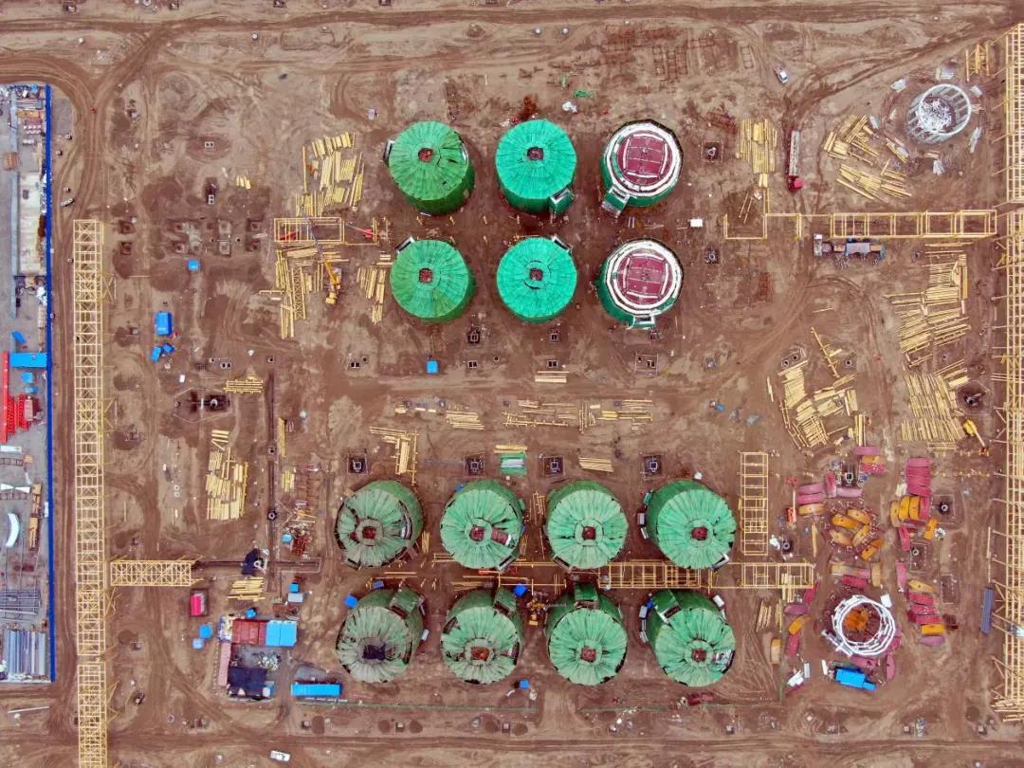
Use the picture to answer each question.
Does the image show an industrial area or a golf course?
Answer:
industrial area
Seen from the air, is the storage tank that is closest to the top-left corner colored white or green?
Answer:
green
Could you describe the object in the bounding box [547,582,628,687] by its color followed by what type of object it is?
green storage tank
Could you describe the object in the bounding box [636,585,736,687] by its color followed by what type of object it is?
green storage tank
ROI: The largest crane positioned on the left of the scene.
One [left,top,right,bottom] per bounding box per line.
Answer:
[305,219,347,303]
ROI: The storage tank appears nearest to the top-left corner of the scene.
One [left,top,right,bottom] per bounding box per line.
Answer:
[379,120,474,214]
